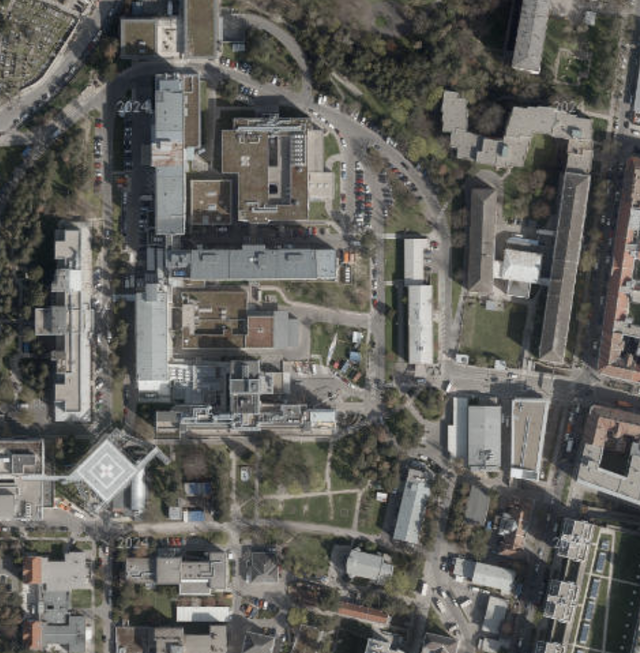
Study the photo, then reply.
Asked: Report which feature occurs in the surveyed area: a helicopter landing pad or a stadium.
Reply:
helicopter landing pad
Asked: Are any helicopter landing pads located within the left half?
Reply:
Yes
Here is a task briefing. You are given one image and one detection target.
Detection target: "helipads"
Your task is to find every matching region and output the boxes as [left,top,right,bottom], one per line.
[64,428,171,514]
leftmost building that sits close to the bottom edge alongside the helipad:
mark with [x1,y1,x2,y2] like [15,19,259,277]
[21,551,93,653]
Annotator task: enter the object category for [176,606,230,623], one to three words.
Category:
building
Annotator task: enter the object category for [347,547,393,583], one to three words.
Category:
house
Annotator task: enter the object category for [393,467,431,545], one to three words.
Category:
house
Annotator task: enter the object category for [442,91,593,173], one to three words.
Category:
building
